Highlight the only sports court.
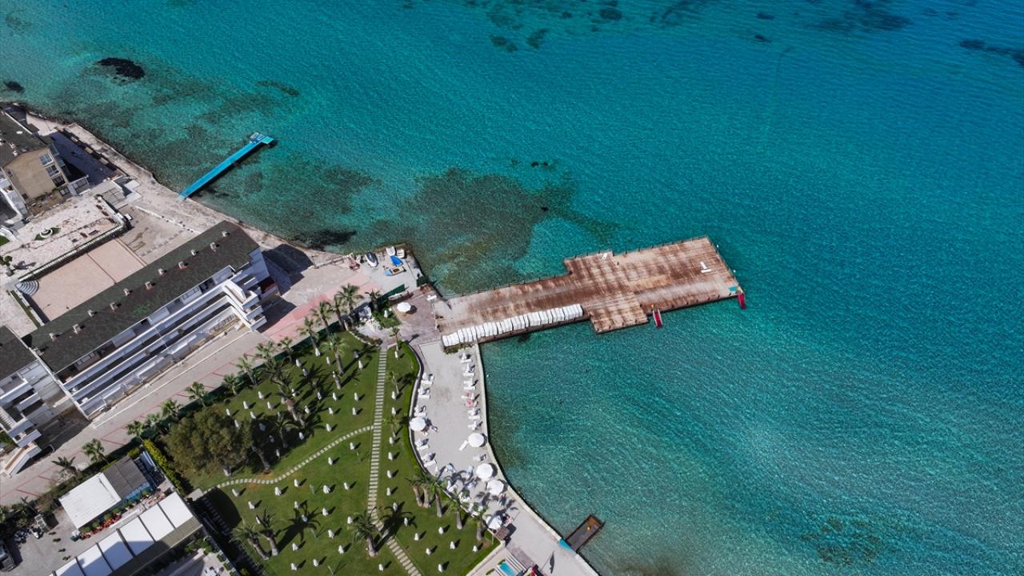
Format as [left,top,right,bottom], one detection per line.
[40,242,148,321]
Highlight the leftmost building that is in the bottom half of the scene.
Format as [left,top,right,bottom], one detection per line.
[0,326,78,475]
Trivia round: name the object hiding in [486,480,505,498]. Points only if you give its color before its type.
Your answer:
white umbrella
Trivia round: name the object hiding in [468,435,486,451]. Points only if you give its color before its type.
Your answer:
white umbrella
